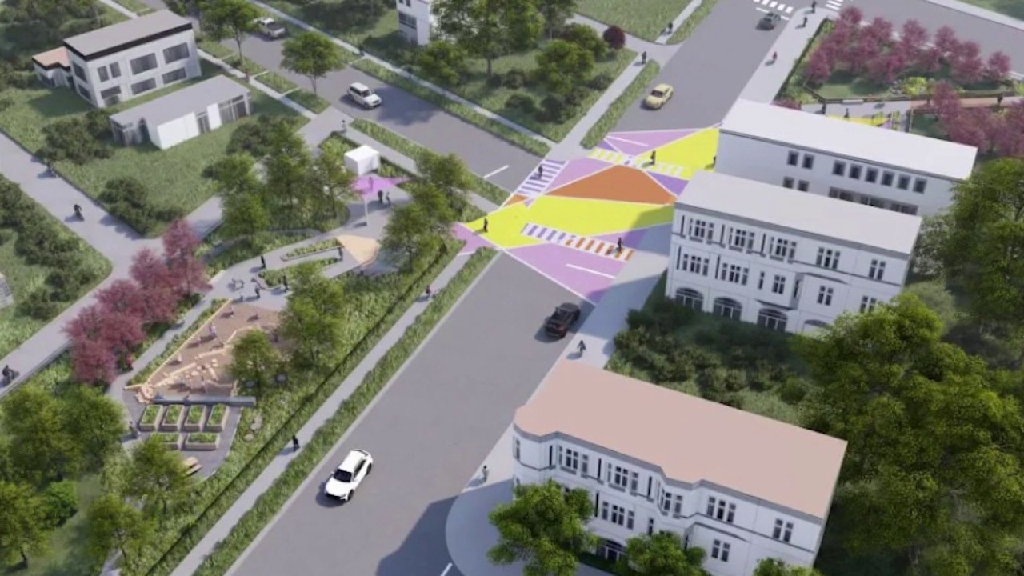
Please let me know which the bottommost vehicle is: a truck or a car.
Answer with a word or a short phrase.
car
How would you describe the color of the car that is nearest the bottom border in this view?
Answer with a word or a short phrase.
white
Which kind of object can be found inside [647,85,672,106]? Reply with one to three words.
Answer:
car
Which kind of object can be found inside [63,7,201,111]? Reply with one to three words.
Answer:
house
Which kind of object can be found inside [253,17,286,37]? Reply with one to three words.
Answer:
vehicle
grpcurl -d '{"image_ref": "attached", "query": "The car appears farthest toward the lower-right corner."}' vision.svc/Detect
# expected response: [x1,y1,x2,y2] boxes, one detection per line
[543,299,581,336]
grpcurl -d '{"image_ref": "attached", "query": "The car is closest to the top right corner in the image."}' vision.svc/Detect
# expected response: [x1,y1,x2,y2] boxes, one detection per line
[760,11,780,27]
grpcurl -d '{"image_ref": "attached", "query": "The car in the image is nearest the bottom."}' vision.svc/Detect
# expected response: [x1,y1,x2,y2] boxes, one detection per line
[323,446,375,500]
